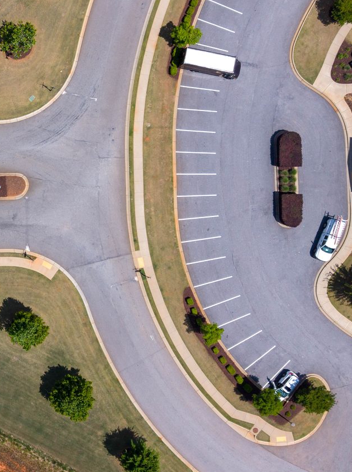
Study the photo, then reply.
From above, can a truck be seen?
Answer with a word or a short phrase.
Yes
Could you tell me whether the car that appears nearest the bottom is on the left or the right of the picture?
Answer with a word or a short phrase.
right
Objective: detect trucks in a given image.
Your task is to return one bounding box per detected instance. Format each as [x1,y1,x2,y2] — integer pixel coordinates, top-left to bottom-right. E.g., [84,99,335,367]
[176,47,237,76]
[315,216,351,263]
